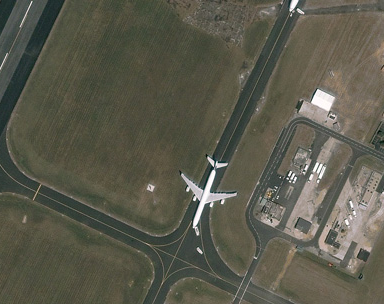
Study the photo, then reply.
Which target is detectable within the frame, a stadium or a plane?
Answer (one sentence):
It is a plane that can be seen here.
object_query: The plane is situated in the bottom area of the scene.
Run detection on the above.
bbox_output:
[179,161,237,227]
